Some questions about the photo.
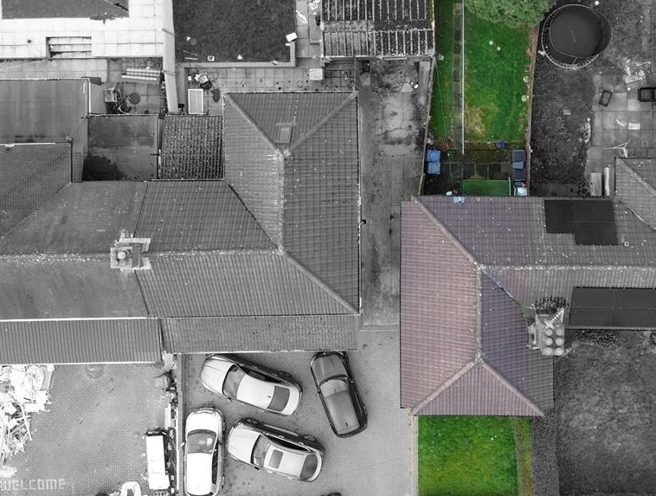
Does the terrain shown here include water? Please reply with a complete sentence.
No, there is no water in the image.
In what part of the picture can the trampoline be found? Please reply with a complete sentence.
Look in the top right portion of the view to spot the trampoline.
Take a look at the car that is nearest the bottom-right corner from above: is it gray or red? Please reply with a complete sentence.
In this view, the car that is nearest the bottom-right corner is gray.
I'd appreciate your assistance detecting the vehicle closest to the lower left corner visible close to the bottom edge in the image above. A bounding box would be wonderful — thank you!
[179,405,229,496]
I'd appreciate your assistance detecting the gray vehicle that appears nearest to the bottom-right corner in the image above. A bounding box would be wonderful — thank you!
[314,351,371,439]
